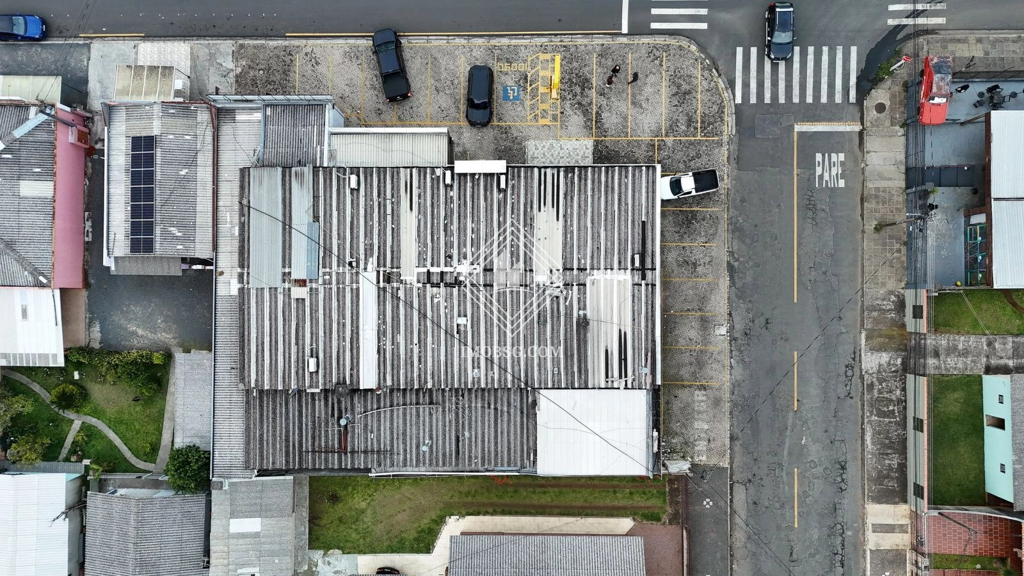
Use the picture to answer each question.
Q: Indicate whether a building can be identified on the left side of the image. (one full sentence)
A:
Yes, you'll find a building on the left side of the image.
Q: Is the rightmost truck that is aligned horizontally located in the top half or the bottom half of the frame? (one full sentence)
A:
It is in the top half that the rightmost truck that is aligned horizontally appears.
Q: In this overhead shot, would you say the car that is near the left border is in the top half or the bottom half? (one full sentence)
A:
You can find the car that is near the left border in the top half.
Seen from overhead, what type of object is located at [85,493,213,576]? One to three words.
house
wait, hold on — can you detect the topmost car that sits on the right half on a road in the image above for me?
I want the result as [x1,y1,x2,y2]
[764,3,796,62]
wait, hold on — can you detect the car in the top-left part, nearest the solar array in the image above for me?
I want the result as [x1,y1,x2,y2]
[0,12,48,42]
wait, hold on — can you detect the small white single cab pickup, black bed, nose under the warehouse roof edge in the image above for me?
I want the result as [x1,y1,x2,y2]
[661,169,722,201]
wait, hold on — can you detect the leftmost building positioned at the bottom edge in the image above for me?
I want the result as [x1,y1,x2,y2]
[0,459,94,576]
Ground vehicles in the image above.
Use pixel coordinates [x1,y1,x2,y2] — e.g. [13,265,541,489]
[377,563,401,576]
[919,58,952,123]
[373,30,410,104]
[764,3,796,62]
[661,169,722,201]
[0,12,48,42]
[465,65,495,128]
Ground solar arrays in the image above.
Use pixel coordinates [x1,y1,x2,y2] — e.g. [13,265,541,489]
[130,136,154,254]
